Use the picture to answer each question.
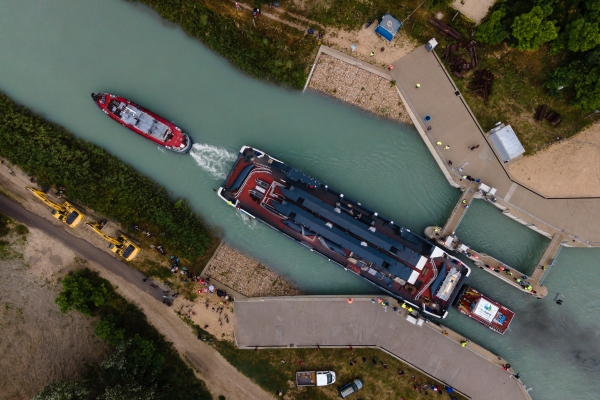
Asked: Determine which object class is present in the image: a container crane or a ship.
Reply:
ship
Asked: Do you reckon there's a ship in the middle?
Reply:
Yes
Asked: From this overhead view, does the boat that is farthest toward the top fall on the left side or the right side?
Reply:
left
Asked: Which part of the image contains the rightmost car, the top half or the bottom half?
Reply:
bottom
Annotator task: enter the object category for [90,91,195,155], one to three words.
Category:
boat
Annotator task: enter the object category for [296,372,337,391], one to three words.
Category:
vehicle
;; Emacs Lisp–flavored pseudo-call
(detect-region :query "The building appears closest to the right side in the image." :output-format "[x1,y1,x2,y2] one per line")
[488,121,530,170]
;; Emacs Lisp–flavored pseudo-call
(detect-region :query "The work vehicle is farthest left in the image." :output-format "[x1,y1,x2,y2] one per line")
[27,189,93,228]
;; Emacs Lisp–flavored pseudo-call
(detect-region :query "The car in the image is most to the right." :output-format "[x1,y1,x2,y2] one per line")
[337,378,364,400]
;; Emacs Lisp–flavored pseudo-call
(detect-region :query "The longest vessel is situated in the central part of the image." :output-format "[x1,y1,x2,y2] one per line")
[216,145,473,319]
